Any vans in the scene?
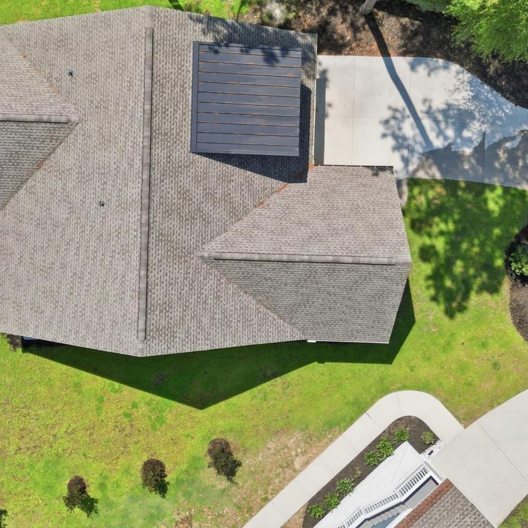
No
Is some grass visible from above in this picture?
Yes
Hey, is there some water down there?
No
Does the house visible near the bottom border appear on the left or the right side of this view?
right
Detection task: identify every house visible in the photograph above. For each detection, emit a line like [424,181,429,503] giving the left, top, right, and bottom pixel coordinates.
[0,5,411,357]
[314,441,490,528]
